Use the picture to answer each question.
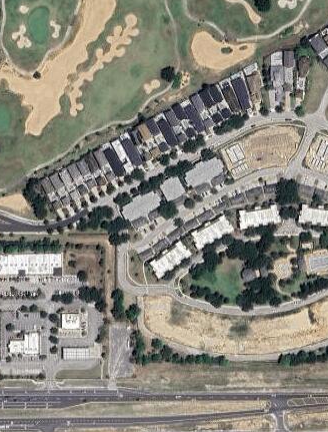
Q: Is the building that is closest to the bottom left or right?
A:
left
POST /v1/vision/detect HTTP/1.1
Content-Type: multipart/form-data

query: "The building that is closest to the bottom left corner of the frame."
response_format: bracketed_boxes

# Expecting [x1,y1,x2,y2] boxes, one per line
[9,331,39,354]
